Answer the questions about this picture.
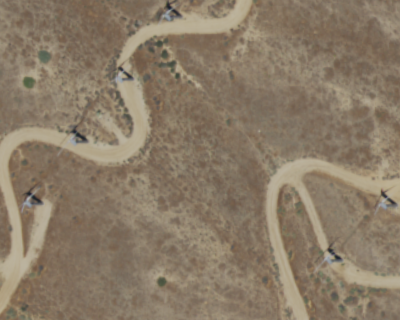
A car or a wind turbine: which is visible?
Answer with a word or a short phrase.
wind turbine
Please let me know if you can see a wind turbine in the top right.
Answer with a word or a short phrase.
No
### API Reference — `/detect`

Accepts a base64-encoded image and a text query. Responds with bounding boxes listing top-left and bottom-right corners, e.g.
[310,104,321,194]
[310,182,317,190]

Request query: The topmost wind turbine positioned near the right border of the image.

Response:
[374,188,398,216]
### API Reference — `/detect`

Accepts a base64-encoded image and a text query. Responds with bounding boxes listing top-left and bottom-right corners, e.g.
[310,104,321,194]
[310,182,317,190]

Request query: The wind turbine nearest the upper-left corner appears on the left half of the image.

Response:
[112,60,135,86]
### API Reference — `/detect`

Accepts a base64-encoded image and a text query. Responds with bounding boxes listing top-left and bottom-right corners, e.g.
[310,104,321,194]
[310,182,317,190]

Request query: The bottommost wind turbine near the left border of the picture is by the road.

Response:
[18,184,44,212]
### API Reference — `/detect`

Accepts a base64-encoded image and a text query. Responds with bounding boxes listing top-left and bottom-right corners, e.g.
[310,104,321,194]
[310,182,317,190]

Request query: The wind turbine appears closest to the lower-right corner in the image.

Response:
[316,246,344,270]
